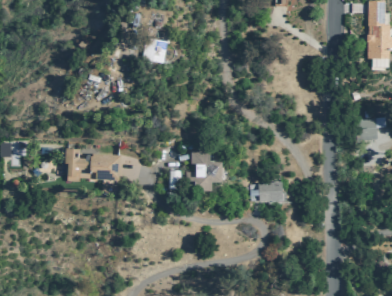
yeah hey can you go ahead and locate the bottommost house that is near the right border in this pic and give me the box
[360,118,386,141]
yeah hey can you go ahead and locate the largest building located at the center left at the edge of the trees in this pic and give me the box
[66,148,119,182]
